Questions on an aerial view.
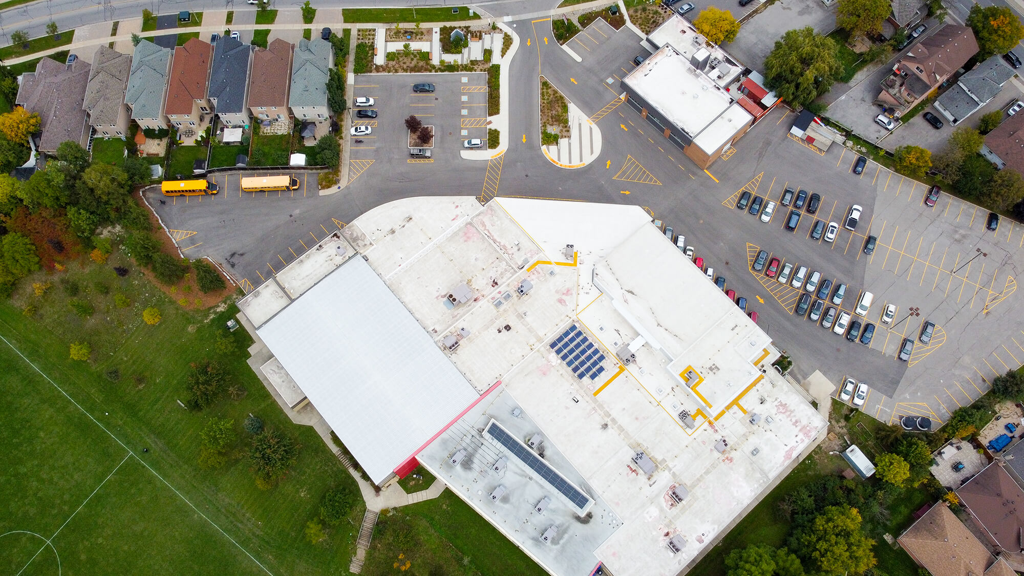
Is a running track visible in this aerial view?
No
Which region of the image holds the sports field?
bottom left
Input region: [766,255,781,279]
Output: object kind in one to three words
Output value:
car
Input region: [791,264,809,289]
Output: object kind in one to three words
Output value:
vehicle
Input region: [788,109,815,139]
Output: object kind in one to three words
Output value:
shed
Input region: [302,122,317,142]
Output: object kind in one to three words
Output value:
gazebo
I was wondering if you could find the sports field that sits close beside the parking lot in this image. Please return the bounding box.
[0,320,299,576]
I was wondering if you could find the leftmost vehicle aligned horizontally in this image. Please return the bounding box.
[159,179,222,198]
